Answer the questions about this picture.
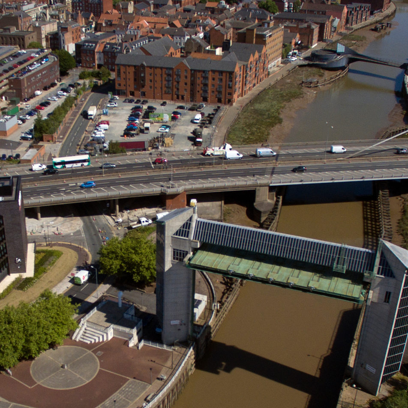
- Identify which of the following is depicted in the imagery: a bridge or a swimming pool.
bridge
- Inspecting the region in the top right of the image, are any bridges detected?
Yes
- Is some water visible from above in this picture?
Yes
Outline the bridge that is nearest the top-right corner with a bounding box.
[304,42,405,75]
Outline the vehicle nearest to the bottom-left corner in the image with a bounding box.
[73,268,90,285]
